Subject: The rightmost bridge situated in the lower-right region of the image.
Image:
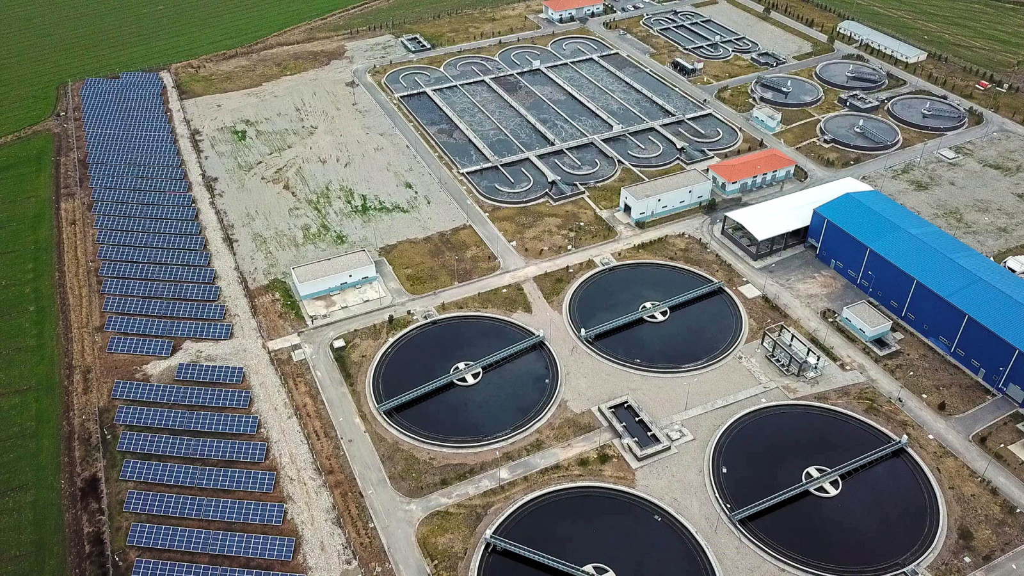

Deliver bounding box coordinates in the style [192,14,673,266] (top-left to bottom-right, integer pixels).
[728,437,910,526]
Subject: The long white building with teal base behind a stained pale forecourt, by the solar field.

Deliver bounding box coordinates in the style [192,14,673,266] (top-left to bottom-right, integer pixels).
[289,247,377,299]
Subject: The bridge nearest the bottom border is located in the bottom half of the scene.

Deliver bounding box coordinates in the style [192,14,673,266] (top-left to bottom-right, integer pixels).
[477,539,602,576]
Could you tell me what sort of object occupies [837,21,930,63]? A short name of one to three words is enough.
building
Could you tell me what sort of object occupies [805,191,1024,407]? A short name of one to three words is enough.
building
